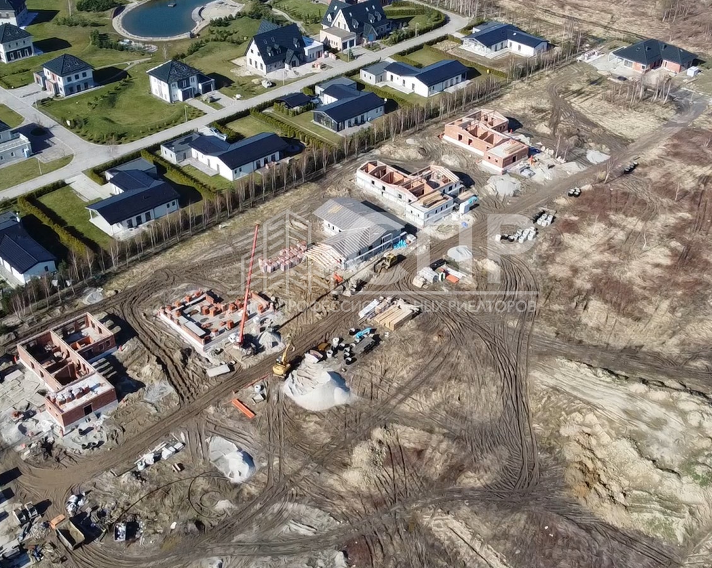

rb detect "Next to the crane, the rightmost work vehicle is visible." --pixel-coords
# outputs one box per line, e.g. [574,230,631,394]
[267,337,300,377]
